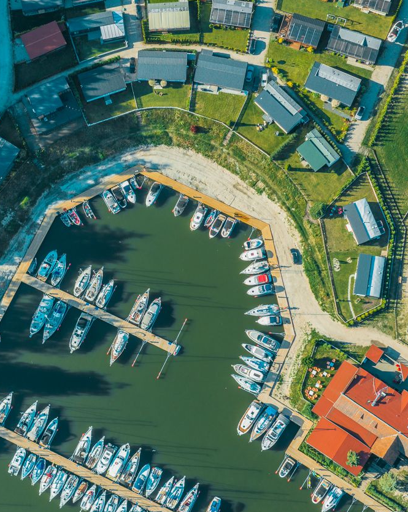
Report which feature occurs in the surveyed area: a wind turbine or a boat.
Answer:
boat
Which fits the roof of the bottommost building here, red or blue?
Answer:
red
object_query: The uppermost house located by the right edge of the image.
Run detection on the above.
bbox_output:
[351,0,392,20]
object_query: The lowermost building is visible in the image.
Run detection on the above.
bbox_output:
[306,360,408,475]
